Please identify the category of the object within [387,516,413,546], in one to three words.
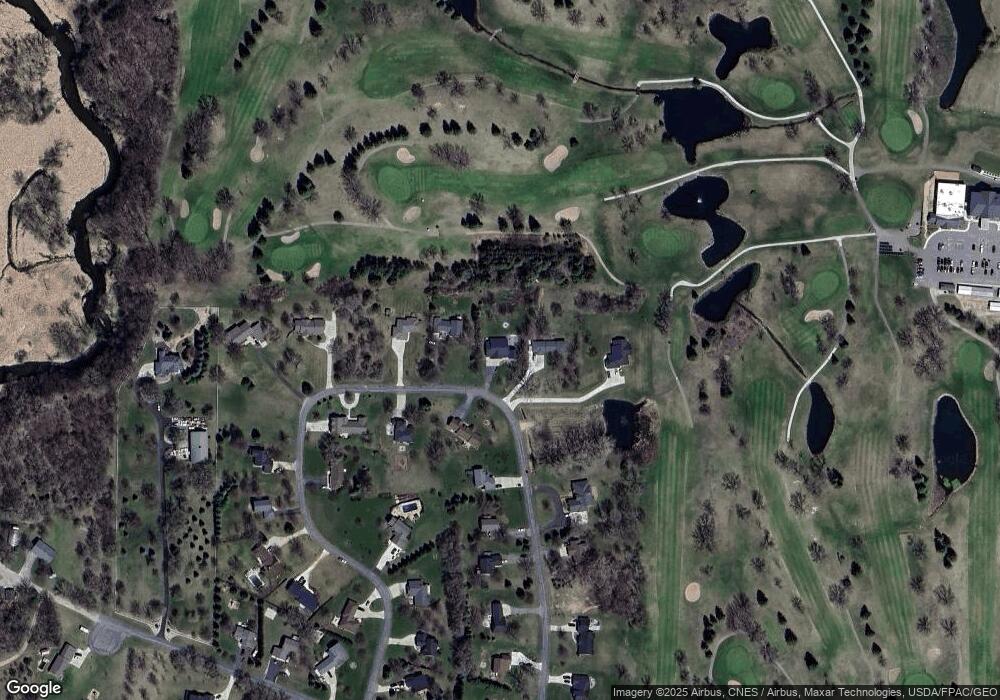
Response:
house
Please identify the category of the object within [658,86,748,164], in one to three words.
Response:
pond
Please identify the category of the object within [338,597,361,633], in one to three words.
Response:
house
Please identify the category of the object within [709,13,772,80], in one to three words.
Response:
pond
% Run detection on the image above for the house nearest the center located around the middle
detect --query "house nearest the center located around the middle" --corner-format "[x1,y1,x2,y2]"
[484,337,520,359]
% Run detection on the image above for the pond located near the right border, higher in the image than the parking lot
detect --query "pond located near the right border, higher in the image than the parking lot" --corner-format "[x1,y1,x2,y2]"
[939,0,990,109]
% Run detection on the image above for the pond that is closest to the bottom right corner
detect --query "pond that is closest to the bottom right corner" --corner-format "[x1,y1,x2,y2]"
[934,394,977,494]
